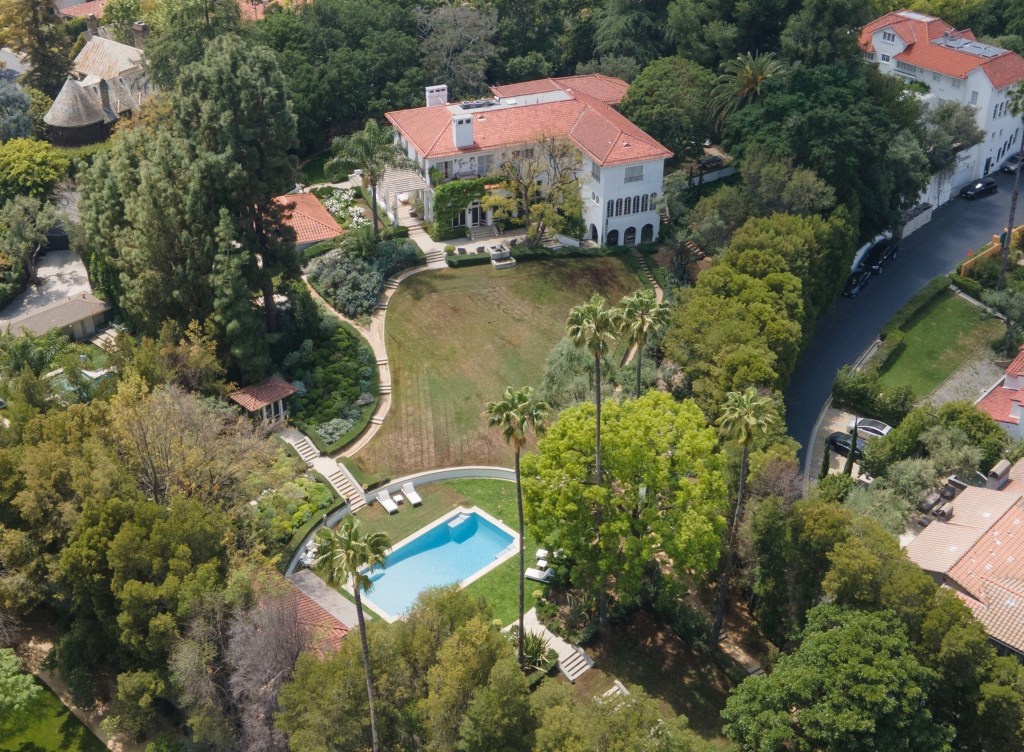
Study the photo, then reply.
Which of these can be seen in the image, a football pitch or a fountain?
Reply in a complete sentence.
This aerial view contains a fountain.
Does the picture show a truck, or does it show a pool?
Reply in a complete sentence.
It is a pool that can be seen here.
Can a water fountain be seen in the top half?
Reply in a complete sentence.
Yes, a water fountain can be seen in the top half.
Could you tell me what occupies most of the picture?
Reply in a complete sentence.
The largest share of the image is taken up by trees.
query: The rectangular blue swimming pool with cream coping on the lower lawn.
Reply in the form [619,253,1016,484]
[338,504,520,621]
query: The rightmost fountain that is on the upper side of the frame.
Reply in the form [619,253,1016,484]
[486,248,515,273]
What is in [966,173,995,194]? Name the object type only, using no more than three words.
car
